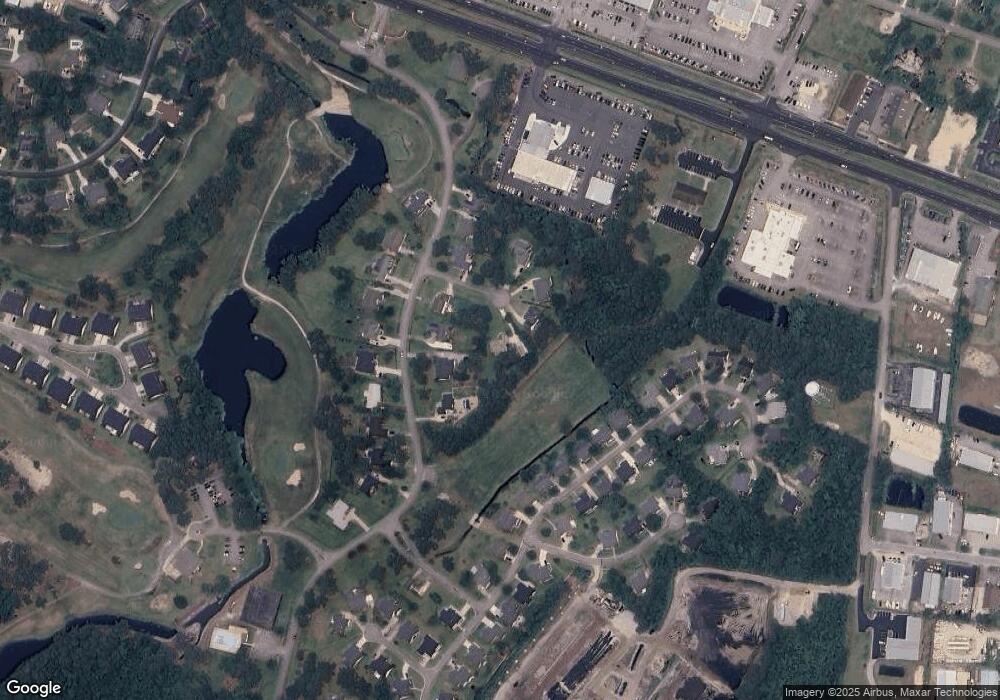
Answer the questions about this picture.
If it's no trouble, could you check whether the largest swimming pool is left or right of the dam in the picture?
to the right of it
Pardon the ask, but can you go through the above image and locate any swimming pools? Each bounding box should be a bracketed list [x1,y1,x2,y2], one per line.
[209,627,240,653]
[69,40,83,50]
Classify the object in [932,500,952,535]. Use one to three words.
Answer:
building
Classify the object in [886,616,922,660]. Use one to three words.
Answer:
building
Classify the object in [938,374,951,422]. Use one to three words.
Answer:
shed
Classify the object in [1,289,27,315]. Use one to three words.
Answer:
house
